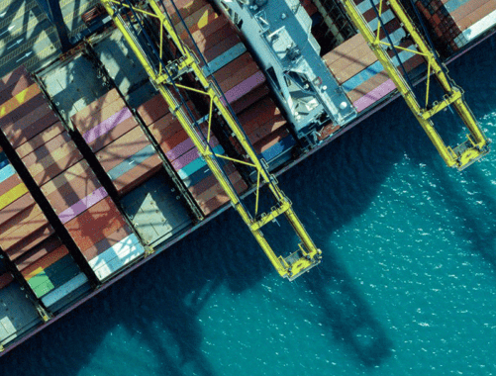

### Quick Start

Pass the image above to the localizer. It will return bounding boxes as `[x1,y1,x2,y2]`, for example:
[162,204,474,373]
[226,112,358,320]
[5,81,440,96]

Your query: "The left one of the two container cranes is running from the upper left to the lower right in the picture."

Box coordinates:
[29,0,322,284]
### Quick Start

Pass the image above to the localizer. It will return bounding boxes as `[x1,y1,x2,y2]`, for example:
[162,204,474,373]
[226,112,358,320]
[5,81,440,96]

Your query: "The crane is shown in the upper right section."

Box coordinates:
[333,0,492,173]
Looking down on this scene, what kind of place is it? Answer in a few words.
port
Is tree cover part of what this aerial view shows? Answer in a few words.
No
